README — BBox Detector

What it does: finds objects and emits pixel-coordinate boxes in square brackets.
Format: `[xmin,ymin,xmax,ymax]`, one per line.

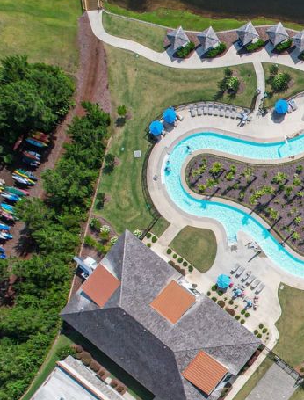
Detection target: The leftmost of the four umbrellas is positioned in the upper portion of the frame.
[148,120,164,135]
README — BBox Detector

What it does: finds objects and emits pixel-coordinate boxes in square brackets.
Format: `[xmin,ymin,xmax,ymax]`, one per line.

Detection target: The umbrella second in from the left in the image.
[163,108,177,123]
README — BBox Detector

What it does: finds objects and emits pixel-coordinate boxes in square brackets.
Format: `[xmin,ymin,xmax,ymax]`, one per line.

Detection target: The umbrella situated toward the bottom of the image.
[216,273,232,288]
